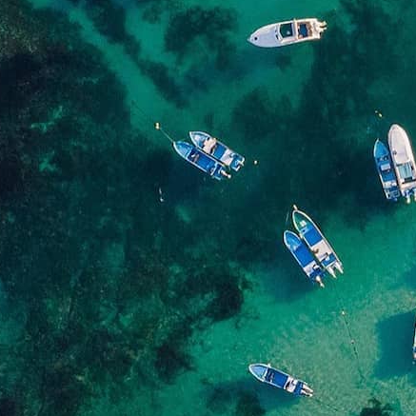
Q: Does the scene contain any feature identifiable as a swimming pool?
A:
No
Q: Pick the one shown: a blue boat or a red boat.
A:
blue boat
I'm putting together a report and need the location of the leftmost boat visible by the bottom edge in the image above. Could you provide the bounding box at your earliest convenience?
[249,364,316,396]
